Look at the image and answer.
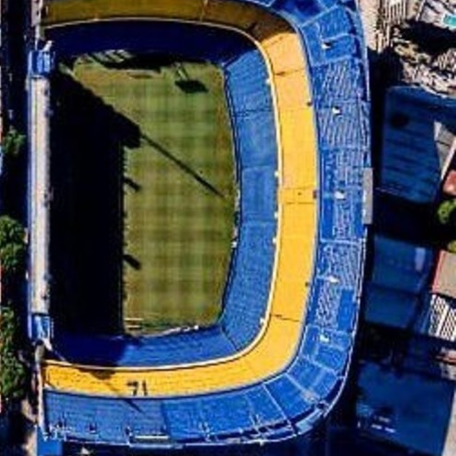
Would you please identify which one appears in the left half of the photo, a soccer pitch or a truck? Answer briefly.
soccer pitch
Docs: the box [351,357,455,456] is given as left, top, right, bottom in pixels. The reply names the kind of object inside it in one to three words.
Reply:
building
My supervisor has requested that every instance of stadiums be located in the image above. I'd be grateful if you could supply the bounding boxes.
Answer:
[26,0,372,448]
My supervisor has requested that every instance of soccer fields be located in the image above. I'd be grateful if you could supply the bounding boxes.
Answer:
[51,51,236,334]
